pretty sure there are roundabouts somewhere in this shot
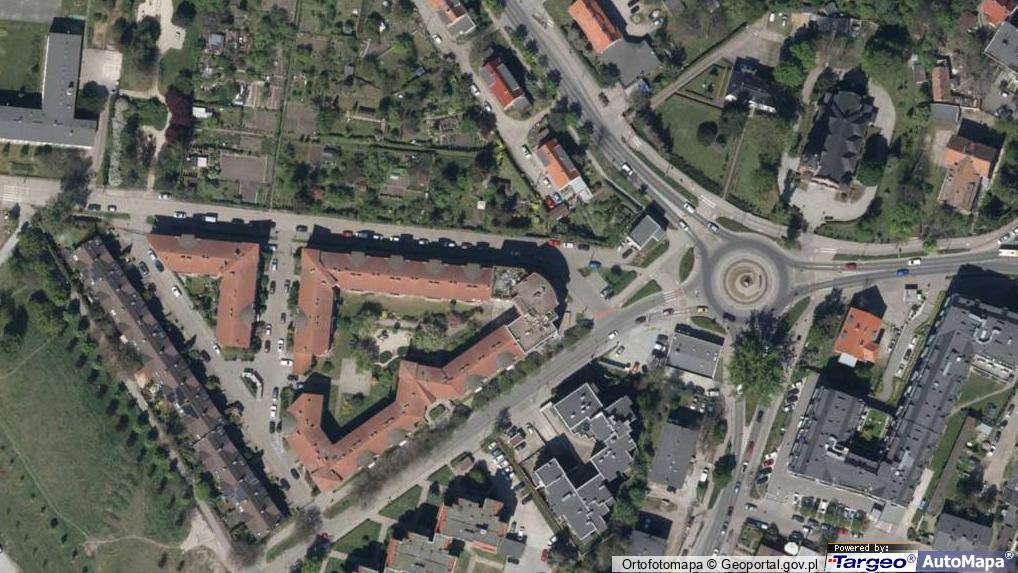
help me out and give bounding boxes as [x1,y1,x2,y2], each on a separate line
[698,233,794,330]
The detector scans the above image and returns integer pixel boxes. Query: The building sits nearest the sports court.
[0,33,97,149]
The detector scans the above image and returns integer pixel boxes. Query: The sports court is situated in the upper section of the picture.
[80,49,122,92]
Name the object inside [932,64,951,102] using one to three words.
house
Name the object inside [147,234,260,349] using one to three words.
building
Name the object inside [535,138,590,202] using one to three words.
house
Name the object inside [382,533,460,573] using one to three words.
building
